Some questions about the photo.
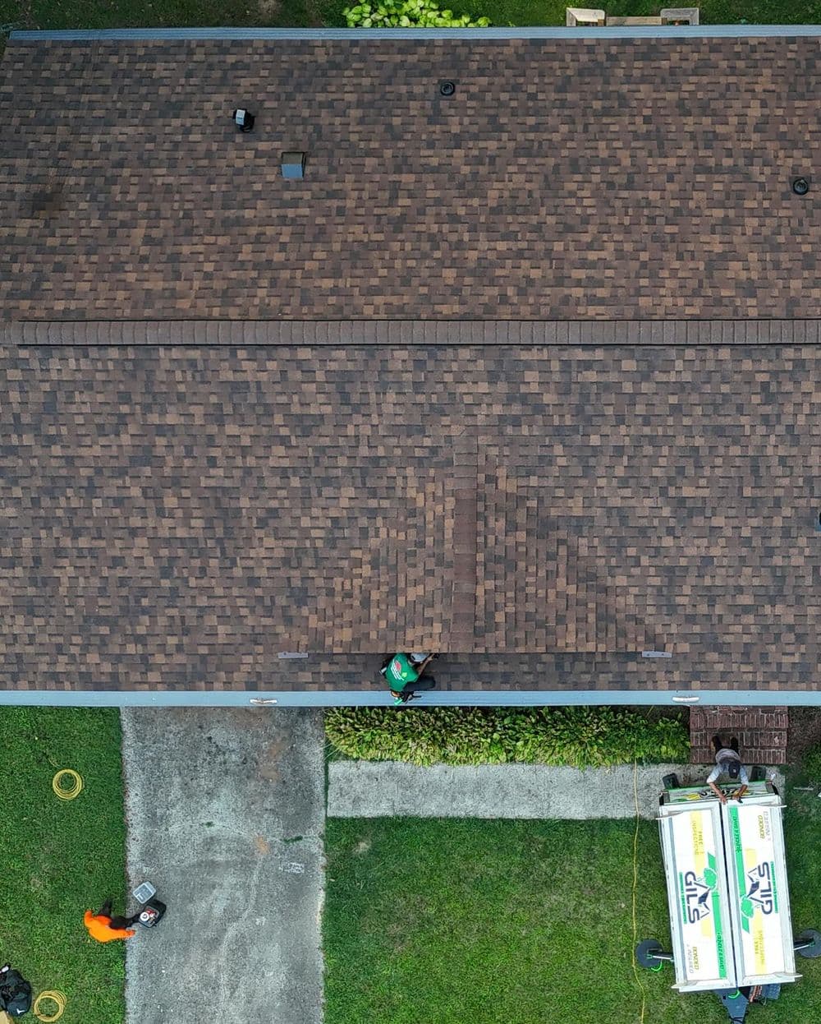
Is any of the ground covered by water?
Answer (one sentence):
No, the scene doesn't show any water.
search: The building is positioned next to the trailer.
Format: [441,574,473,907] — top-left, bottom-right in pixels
[0,25,821,706]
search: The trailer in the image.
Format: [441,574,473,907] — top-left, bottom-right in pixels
[636,765,821,1024]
